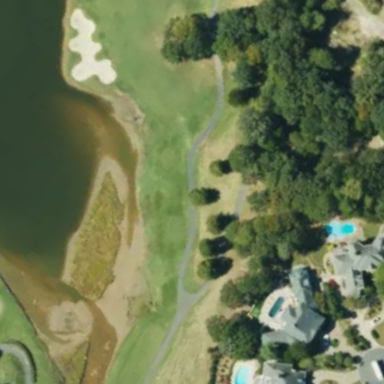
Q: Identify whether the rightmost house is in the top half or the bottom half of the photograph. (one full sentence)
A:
The bottom half of the photo is where the rightmost house is.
